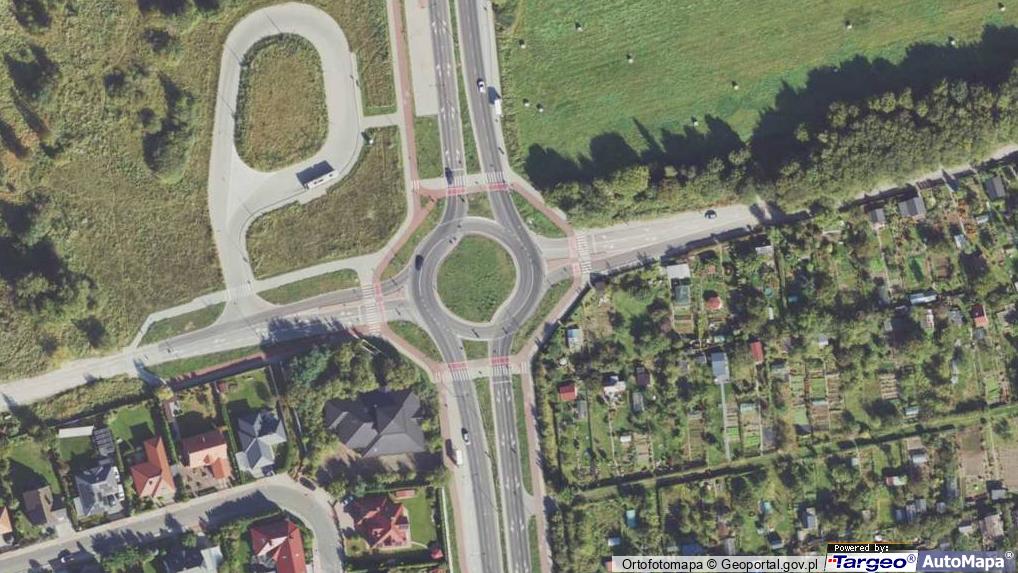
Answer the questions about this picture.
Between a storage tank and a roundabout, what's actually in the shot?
roundabout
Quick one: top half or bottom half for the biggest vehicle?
top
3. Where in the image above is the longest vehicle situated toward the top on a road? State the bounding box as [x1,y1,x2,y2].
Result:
[306,169,339,189]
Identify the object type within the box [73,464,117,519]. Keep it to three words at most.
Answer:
house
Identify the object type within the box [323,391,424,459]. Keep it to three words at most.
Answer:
house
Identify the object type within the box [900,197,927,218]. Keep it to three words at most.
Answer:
building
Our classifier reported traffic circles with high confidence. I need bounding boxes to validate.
[410,216,546,341]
